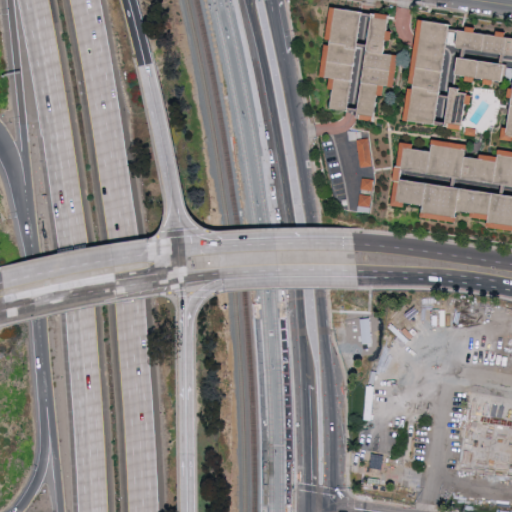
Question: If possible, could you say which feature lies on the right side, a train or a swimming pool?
swimming pool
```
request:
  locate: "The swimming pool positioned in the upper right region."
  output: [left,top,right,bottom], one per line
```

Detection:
[462,88,502,132]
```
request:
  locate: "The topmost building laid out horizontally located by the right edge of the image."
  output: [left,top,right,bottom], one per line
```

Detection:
[454,26,512,60]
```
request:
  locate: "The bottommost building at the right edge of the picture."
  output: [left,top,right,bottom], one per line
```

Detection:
[390,140,512,232]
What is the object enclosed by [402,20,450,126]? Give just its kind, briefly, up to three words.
building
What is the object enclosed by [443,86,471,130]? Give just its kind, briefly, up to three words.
building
